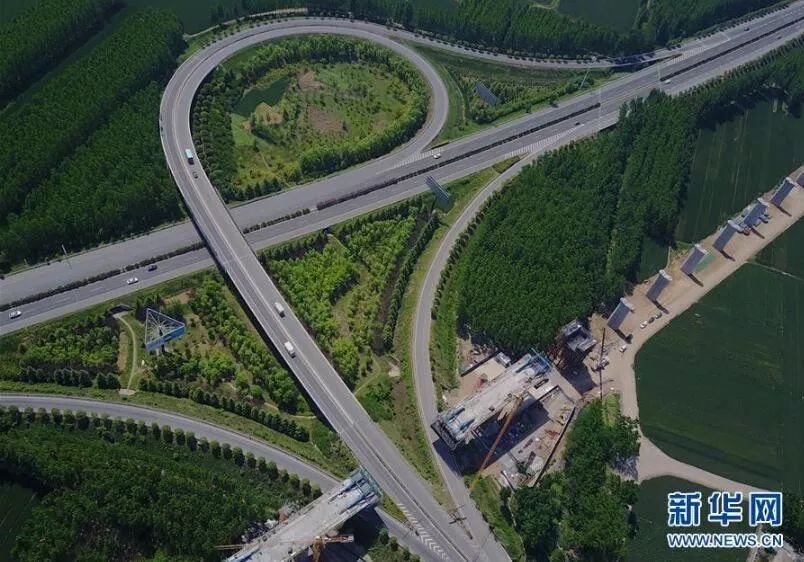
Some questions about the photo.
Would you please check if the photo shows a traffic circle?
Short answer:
No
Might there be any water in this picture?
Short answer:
No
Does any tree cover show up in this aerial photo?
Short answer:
Yes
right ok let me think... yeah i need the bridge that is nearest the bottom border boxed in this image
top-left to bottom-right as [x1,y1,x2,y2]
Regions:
[207,460,376,562]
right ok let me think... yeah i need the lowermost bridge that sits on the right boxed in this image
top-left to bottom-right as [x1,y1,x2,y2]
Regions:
[426,343,555,456]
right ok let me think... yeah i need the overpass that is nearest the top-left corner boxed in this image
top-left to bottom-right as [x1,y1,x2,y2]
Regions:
[159,48,379,433]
